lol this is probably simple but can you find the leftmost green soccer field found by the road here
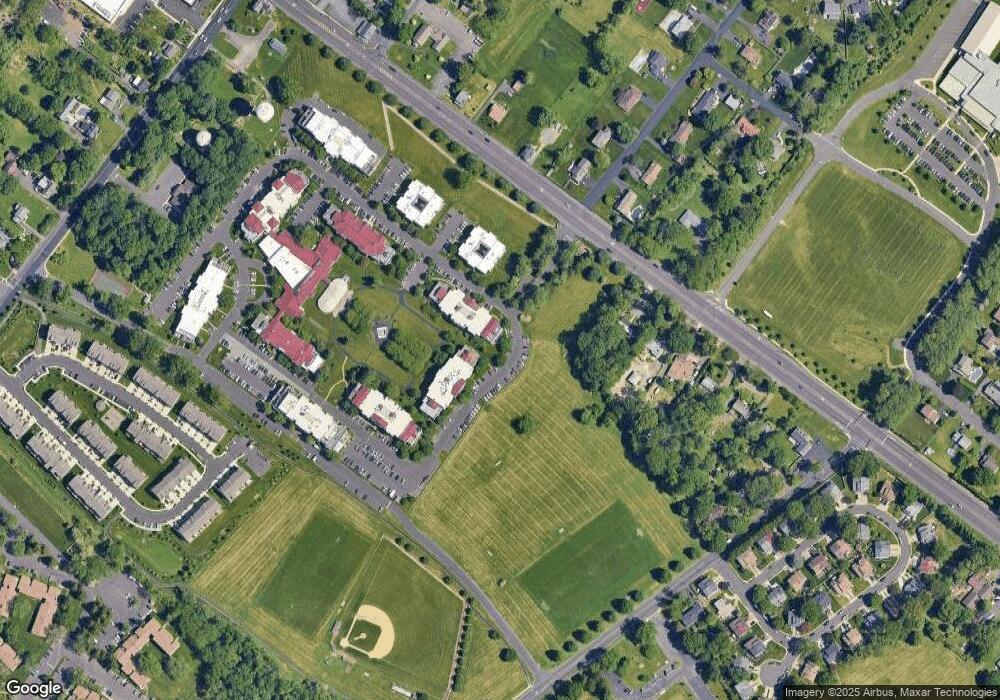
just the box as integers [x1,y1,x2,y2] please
[257,499,373,635]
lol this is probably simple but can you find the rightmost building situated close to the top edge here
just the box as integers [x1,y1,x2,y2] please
[938,2,1000,132]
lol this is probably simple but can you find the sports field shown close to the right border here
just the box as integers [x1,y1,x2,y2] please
[734,164,964,382]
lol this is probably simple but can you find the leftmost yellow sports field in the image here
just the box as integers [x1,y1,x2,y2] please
[194,468,384,664]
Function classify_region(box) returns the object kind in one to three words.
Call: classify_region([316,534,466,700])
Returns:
baseball field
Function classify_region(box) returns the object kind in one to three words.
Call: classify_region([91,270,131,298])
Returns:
sports court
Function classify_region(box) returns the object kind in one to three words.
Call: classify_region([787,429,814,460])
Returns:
house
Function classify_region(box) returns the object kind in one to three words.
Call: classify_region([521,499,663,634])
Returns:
soccer field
